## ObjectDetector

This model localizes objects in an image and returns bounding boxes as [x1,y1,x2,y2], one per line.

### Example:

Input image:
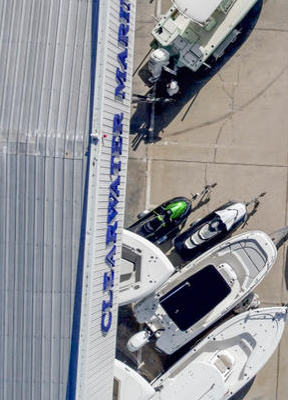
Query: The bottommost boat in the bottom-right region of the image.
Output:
[155,304,288,400]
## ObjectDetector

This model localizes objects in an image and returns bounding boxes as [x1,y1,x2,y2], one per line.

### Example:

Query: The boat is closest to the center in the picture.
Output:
[130,197,195,242]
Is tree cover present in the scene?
No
